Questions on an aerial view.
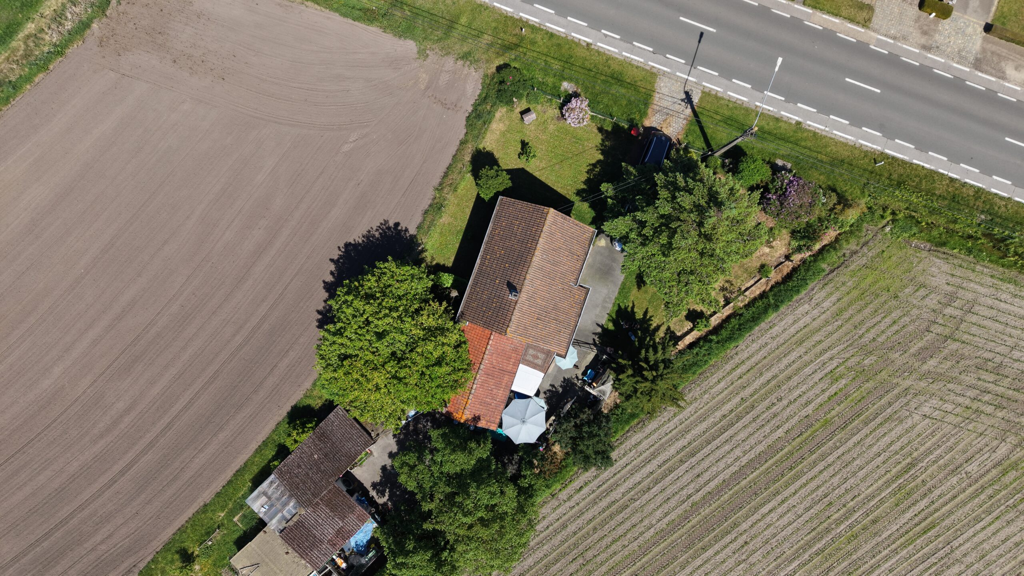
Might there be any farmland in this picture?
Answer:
Yes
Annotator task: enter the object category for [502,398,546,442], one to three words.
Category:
umbrella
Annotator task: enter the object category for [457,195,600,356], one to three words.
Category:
house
